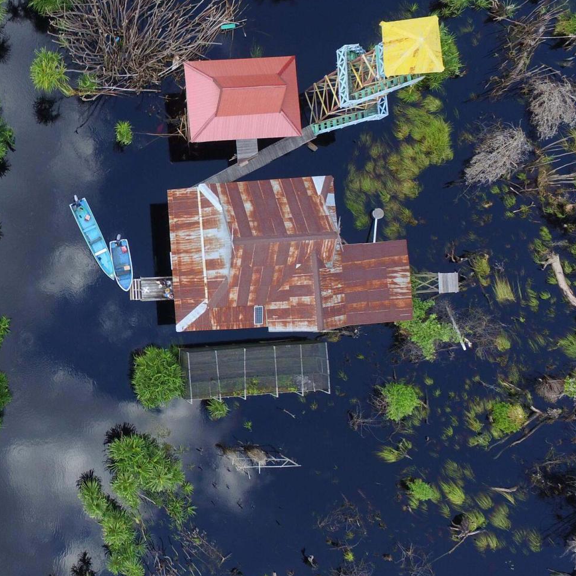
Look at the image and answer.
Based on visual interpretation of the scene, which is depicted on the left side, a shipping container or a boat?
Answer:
boat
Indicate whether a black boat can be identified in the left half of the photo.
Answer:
No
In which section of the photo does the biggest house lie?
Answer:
center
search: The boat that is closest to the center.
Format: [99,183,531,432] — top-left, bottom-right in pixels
[109,232,132,291]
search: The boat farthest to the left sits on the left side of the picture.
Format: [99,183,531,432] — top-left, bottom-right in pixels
[70,194,115,281]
